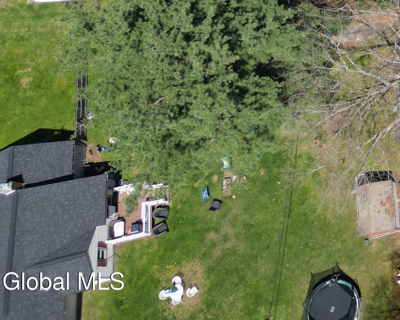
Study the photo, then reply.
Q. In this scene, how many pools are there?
zero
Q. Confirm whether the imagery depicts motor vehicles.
No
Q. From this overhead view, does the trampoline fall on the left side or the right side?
right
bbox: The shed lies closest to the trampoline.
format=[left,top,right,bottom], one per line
[356,178,400,240]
